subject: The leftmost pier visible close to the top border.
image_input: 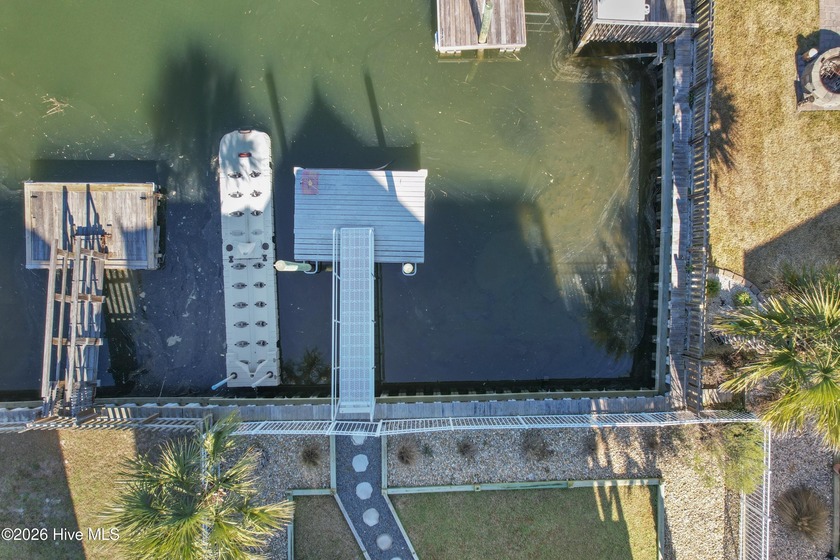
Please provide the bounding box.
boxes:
[436,0,526,58]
